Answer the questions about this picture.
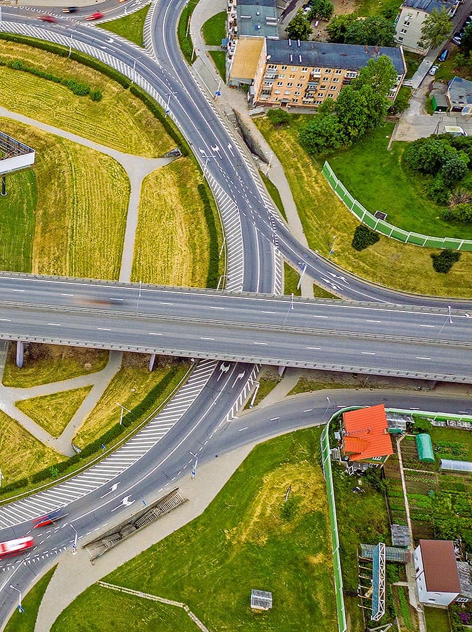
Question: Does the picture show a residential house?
Yes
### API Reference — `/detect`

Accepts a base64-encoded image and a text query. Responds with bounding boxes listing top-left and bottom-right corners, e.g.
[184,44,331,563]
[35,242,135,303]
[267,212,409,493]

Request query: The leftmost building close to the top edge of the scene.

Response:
[224,0,279,82]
